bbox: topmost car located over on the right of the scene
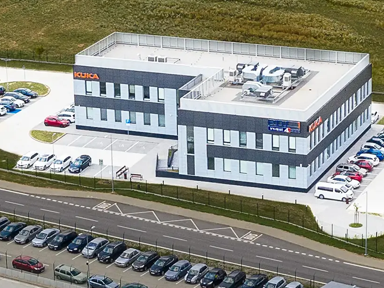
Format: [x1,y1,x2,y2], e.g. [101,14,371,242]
[371,109,384,124]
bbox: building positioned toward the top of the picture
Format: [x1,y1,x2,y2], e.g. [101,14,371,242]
[73,32,372,191]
